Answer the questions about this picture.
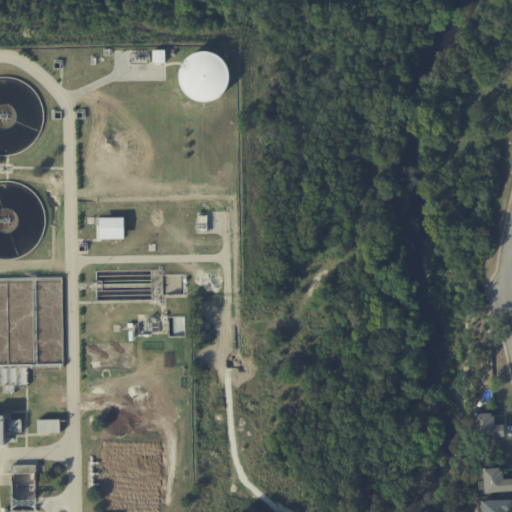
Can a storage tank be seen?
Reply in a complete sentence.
Yes, the frame does contain a storage tank.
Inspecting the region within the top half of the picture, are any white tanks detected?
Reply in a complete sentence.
Yes, within the top half of the picture there is a white tank.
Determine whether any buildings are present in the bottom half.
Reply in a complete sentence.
Yes, a building can be seen in the bottom half.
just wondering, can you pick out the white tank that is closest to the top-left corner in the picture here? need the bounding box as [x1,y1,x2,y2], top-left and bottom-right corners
[178,50,229,102]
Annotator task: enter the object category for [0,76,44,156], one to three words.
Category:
storage tank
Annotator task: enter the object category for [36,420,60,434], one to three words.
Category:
building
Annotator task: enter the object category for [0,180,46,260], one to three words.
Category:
storage tank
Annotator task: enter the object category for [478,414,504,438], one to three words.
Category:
house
